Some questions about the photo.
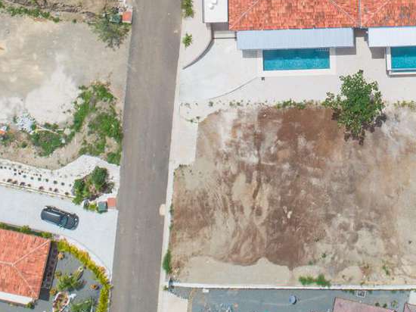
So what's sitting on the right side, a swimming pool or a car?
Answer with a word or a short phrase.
swimming pool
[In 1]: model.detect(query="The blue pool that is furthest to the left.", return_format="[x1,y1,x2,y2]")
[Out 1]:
[259,47,333,74]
